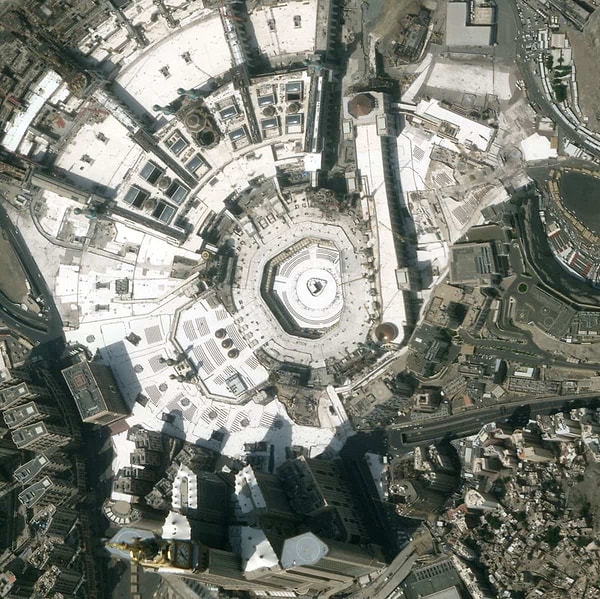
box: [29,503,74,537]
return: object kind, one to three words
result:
building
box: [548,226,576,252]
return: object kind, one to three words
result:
shed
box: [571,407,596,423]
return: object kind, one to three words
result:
building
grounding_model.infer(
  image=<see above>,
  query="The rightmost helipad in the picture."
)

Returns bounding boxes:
[280,532,328,567]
